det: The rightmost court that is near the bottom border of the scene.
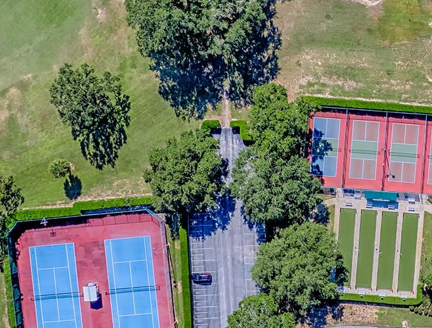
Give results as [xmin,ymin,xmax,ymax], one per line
[103,234,160,328]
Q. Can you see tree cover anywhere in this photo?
Yes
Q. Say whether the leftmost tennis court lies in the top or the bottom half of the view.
bottom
